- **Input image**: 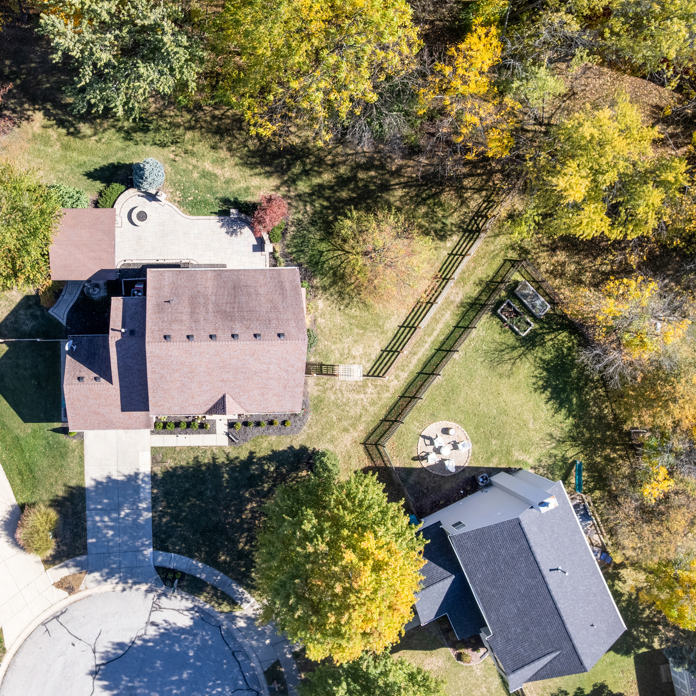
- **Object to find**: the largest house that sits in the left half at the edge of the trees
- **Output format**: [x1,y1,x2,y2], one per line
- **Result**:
[63,265,308,432]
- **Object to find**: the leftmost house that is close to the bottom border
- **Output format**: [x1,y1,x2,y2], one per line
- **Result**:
[404,467,628,694]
